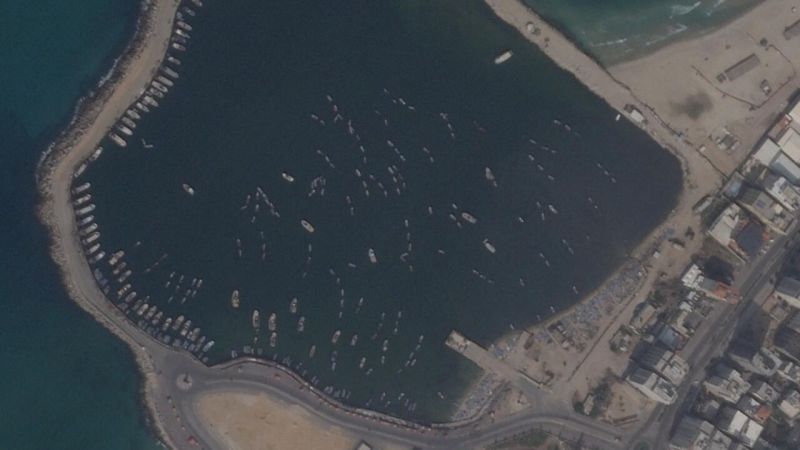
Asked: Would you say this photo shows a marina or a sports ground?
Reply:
marina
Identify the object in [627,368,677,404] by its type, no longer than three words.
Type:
building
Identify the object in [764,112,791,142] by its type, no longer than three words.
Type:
house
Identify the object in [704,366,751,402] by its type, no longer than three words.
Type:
building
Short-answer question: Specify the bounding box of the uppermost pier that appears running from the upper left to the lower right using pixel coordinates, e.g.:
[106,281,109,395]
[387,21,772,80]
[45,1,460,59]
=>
[445,331,511,379]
